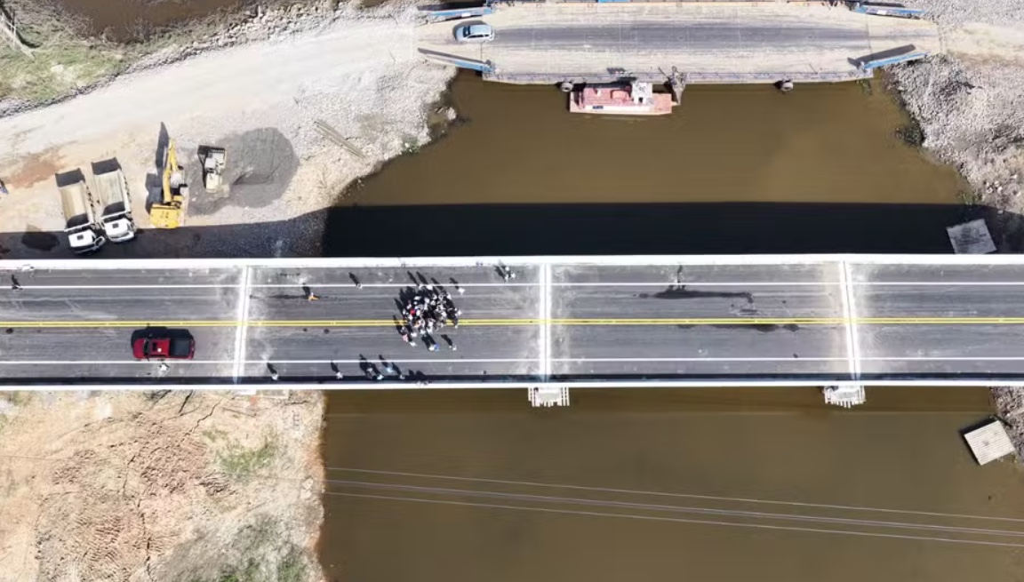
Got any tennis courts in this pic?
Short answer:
No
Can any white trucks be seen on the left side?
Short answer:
Yes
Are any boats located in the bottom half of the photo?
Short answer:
No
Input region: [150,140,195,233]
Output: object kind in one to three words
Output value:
work vehicle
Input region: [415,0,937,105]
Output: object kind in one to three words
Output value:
ship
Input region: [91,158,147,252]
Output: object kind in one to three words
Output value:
truck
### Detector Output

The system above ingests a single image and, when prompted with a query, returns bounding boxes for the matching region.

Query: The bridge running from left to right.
[0,254,1024,406]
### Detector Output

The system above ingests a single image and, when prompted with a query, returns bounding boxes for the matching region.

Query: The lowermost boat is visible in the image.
[569,82,676,115]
